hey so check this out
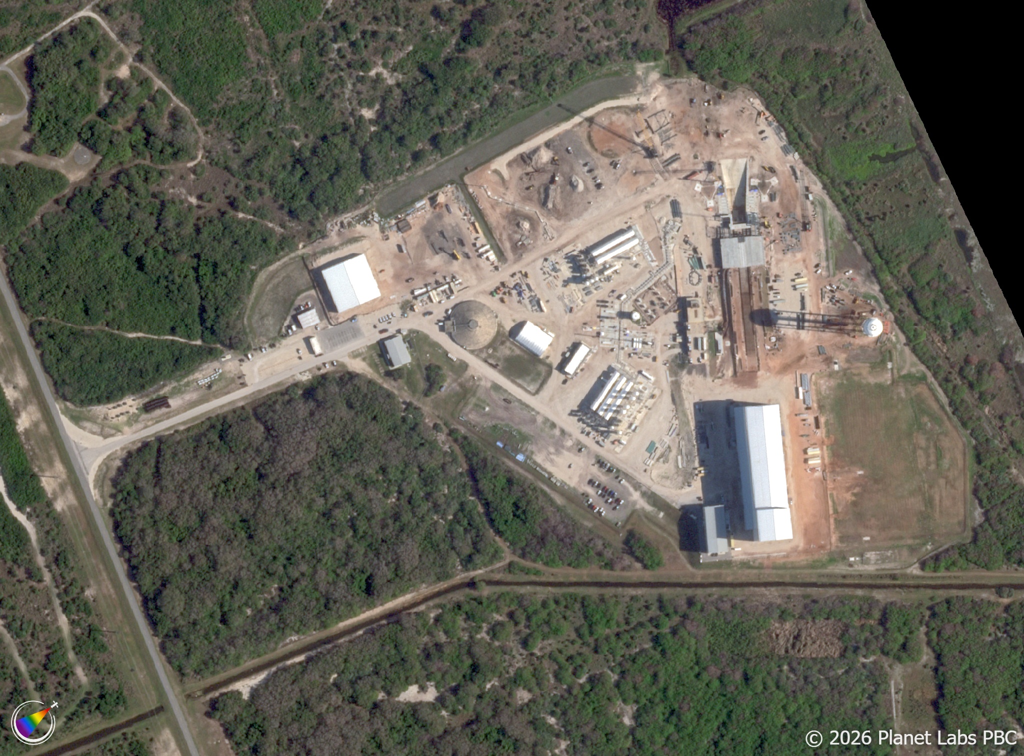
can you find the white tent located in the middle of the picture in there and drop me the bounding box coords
[515,321,553,357]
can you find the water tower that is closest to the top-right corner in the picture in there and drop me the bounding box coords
[844,315,884,340]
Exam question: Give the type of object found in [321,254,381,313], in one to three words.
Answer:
building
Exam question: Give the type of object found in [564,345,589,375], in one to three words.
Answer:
building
